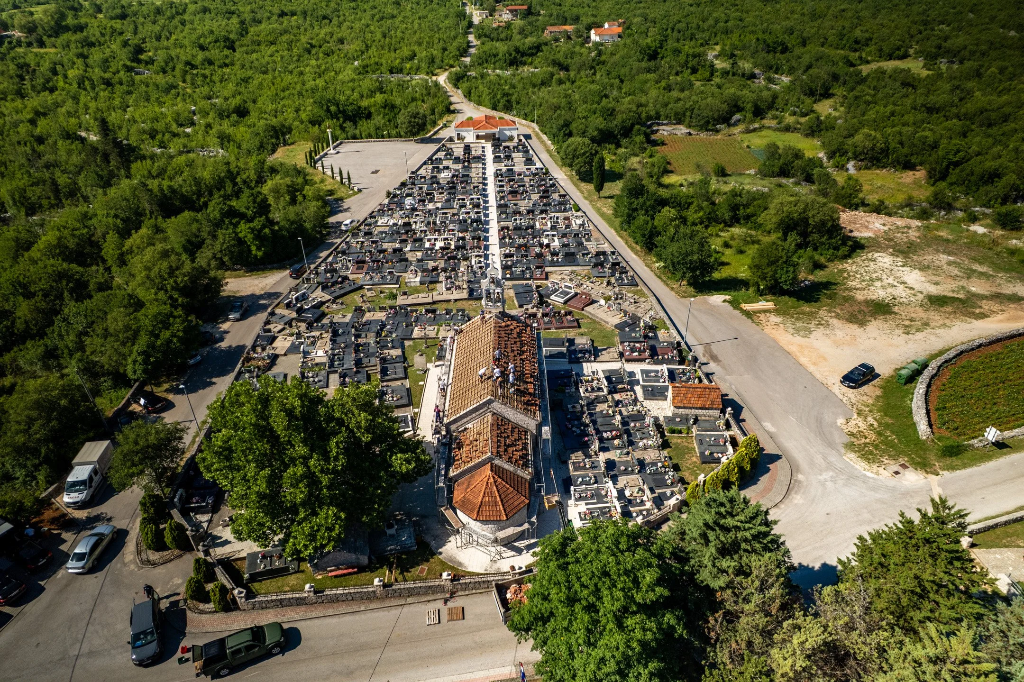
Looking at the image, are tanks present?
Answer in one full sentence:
No, the scene contains no tank.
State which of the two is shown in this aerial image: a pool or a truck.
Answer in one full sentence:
Looking from above, you can make out a truck.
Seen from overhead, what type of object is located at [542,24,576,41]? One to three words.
building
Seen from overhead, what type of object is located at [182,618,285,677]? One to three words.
truck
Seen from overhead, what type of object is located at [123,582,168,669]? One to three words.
car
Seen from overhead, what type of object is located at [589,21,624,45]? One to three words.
house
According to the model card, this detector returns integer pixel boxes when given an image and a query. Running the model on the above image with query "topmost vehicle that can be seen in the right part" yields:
[842,356,883,387]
